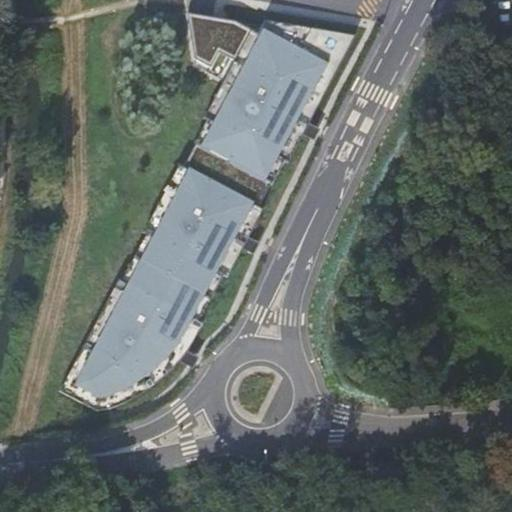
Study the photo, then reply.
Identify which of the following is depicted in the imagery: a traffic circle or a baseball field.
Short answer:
traffic circle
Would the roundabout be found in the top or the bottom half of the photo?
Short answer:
bottom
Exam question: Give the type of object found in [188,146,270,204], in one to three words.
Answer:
building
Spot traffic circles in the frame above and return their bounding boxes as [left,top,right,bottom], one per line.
[203,338,317,452]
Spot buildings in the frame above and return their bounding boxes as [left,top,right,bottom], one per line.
[64,164,263,406]
[197,20,356,182]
